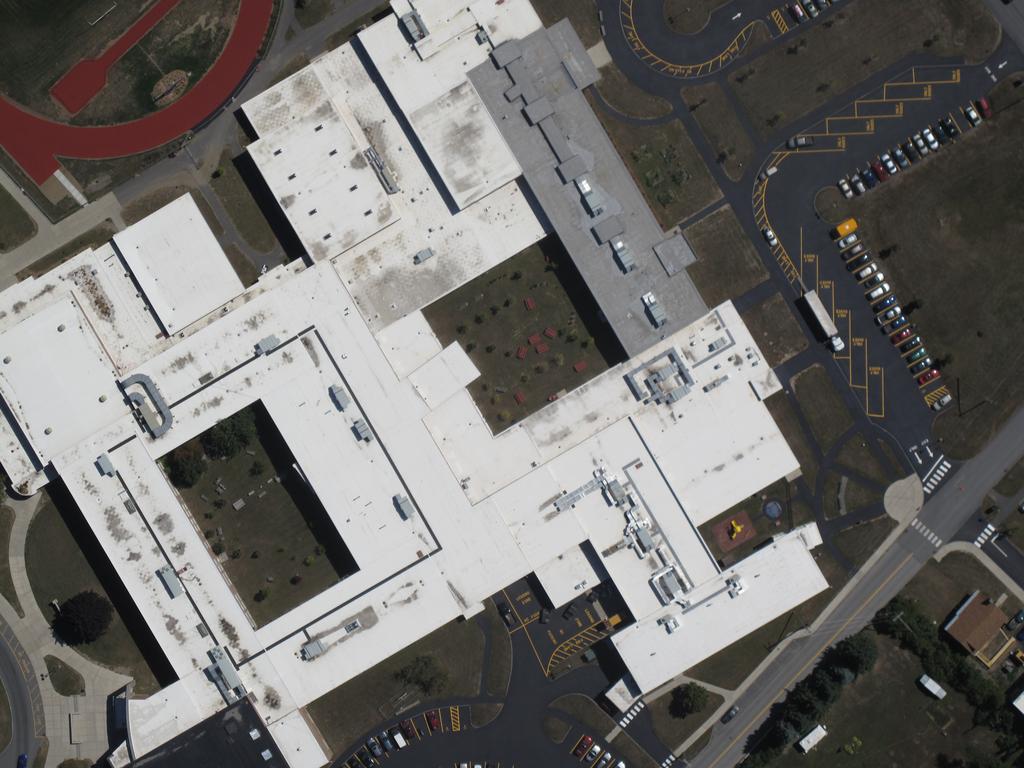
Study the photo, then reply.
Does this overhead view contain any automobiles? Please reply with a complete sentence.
Yes, an automobile appears in the view.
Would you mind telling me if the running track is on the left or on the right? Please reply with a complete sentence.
It is on the left.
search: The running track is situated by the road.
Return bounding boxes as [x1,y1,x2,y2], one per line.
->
[0,0,275,205]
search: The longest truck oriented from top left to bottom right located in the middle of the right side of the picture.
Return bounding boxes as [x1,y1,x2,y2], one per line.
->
[803,290,845,353]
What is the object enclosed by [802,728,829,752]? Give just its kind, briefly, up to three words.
camper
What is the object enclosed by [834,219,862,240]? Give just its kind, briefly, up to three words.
vehicle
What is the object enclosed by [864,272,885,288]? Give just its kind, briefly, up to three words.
car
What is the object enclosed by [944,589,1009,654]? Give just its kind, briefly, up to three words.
house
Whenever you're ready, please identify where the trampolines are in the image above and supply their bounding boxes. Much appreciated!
[763,500,780,518]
